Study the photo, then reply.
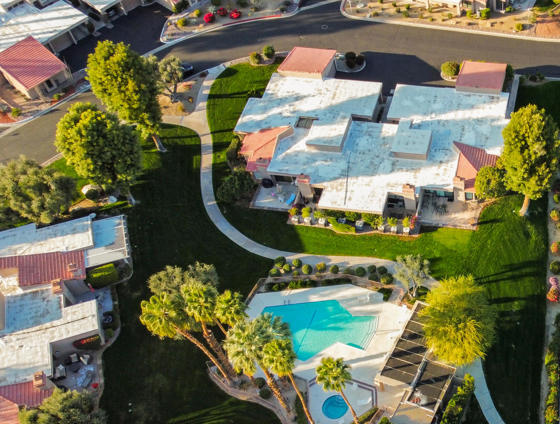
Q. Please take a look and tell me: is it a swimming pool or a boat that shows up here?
swimming pool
